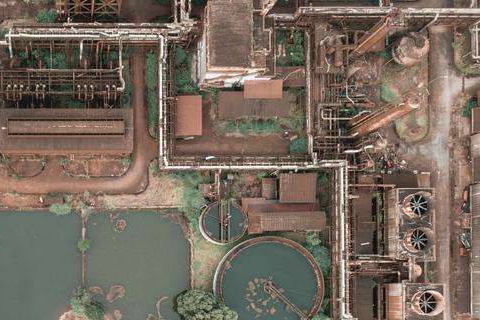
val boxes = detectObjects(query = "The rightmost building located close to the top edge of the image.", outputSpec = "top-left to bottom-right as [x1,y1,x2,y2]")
[194,0,267,94]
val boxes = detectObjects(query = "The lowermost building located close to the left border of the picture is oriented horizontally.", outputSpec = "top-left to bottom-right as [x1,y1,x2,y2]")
[0,107,134,158]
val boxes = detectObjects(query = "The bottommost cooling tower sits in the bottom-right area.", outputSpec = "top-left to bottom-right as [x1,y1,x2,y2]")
[400,283,450,320]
